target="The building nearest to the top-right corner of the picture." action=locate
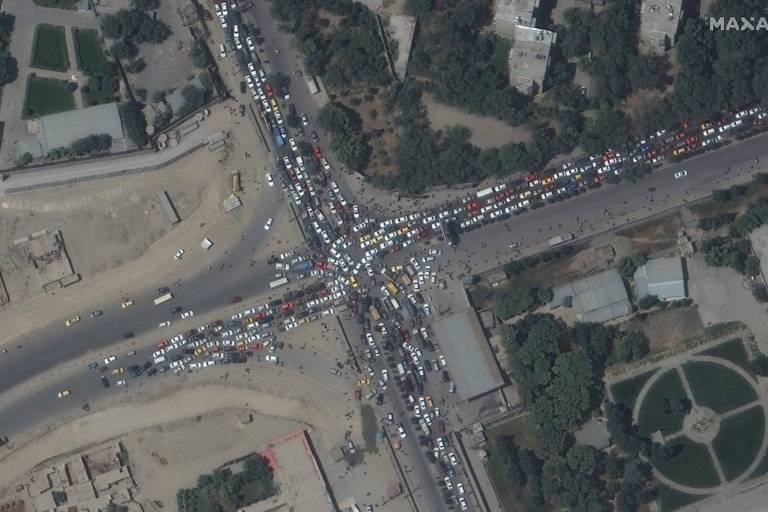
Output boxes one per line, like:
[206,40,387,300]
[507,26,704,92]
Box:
[637,0,683,51]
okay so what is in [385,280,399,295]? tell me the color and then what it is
yellow vehicle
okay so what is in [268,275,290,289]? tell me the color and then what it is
white vehicle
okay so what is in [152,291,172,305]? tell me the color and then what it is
white vehicle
